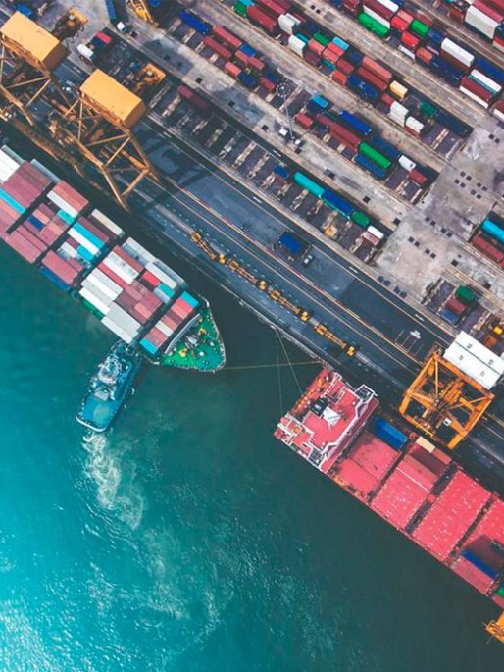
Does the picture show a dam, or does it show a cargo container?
cargo container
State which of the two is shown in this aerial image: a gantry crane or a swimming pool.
gantry crane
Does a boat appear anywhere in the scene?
Yes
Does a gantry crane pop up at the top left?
Yes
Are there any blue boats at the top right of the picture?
No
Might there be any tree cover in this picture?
No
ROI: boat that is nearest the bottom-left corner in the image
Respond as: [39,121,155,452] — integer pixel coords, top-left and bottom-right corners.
[78,344,138,435]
